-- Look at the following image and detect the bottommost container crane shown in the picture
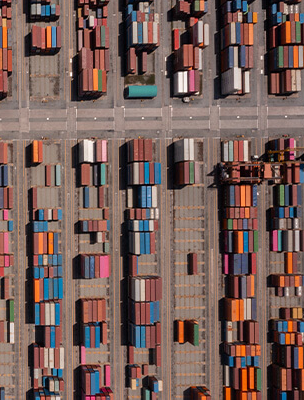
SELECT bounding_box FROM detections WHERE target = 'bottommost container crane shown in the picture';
[210,163,281,183]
